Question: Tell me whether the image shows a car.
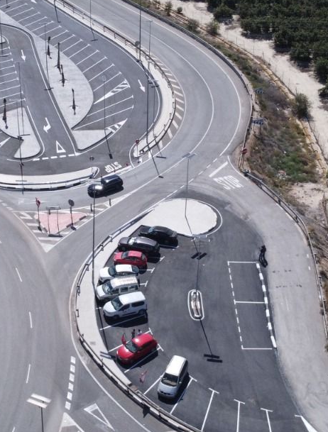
Yes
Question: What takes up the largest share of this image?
paved ground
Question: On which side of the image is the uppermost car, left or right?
left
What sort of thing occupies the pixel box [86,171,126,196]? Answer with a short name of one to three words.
car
